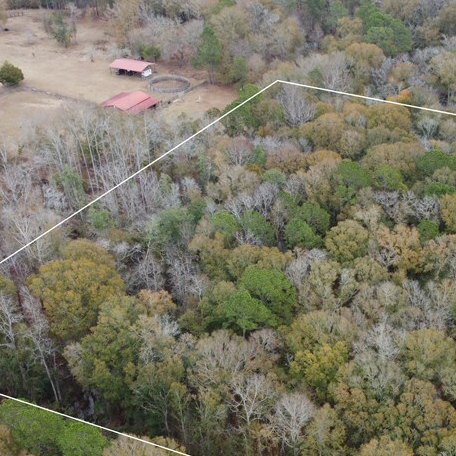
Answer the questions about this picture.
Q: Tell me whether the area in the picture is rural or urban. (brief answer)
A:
rural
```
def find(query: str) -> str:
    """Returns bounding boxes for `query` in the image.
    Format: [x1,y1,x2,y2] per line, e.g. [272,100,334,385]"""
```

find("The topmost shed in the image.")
[110,56,156,79]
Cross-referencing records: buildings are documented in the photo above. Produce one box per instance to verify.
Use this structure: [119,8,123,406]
[97,90,162,125]
[110,56,156,79]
